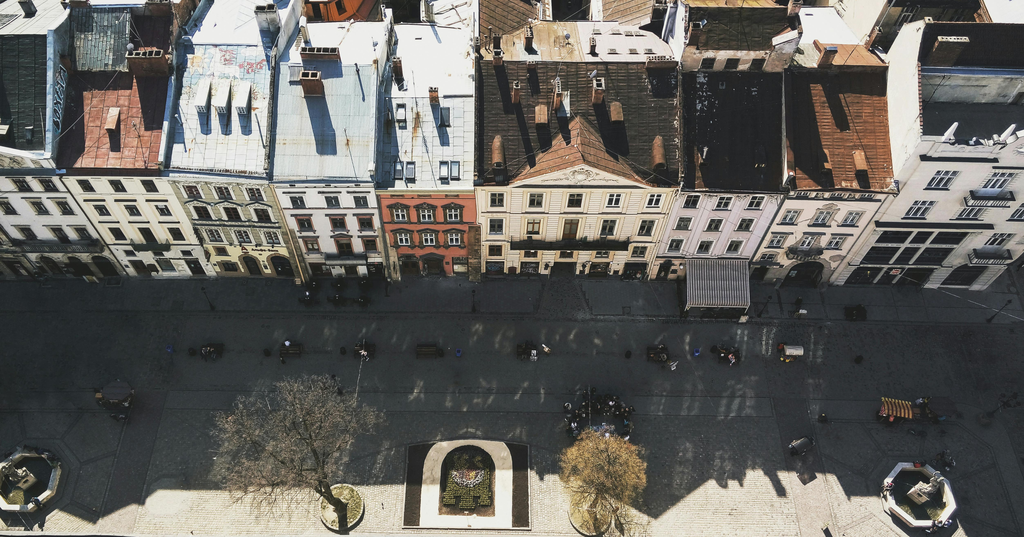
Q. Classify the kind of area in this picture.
residential area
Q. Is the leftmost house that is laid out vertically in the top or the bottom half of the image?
top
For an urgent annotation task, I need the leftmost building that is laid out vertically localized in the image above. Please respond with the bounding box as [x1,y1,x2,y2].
[0,0,129,279]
